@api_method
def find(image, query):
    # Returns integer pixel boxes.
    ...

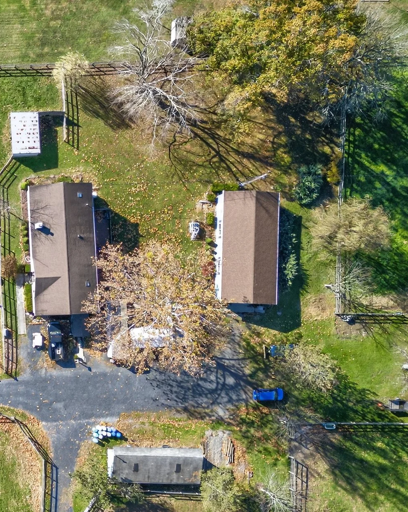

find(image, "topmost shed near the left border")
[9,111,40,156]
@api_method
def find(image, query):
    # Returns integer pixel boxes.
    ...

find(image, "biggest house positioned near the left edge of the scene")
[18,182,108,316]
